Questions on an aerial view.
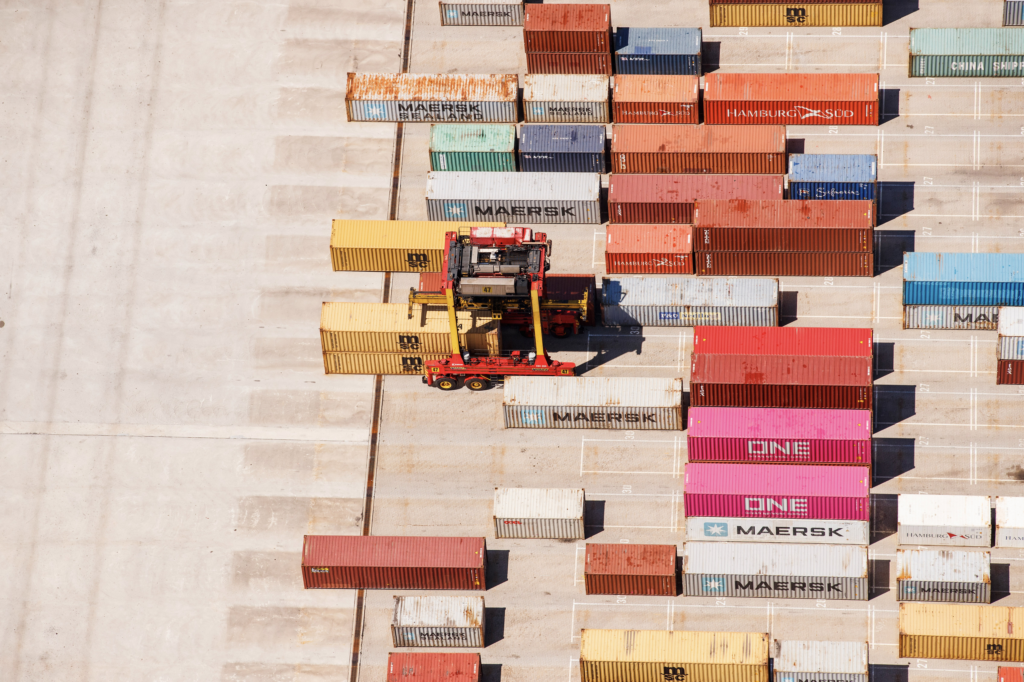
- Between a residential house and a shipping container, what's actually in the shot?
shipping container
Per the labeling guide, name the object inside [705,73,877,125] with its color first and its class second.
red shipping container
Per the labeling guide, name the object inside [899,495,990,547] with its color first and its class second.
white shipping container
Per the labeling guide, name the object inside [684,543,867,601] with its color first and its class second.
white shipping container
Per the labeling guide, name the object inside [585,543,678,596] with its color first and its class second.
red shipping container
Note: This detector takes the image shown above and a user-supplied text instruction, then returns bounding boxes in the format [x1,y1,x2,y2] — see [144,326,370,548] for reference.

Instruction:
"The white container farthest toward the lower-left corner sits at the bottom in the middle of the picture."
[391,596,486,648]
